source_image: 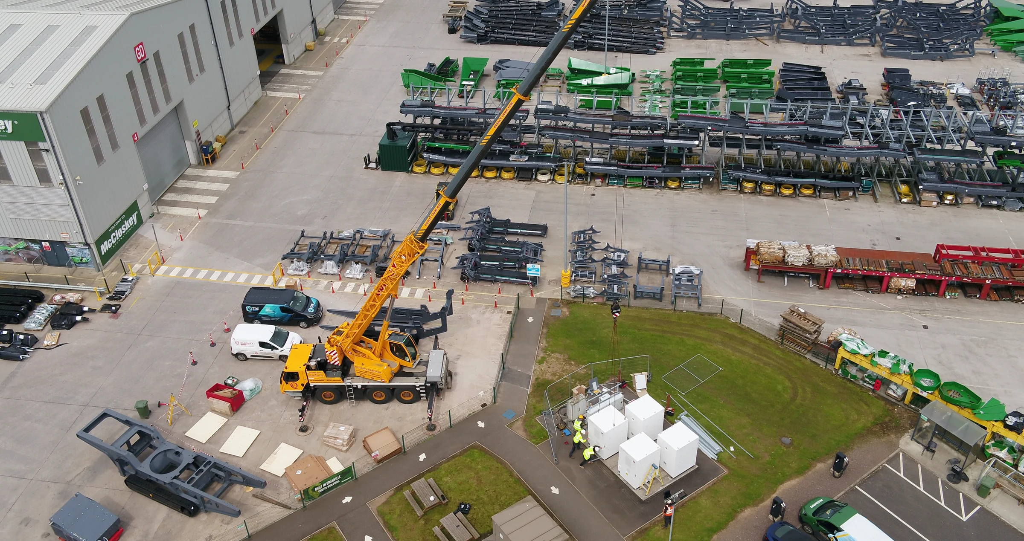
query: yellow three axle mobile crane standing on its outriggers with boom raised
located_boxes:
[283,0,599,434]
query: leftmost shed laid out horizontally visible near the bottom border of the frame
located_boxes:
[474,495,573,541]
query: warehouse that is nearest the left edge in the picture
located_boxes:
[0,0,347,270]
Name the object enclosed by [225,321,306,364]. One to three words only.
van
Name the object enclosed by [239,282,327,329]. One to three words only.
van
